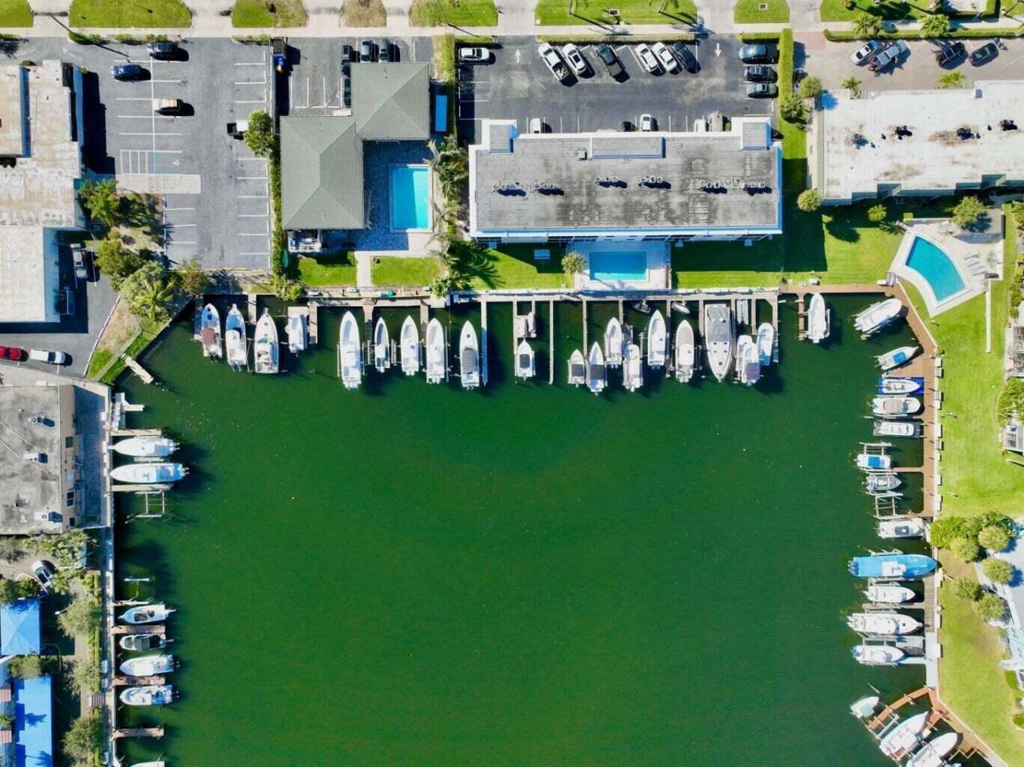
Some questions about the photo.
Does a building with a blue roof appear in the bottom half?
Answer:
Yes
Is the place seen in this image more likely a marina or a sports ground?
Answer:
marina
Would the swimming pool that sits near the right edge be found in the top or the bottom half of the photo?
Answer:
top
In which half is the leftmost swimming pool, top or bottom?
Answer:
top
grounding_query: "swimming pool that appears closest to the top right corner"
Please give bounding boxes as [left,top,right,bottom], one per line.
[891,209,1003,318]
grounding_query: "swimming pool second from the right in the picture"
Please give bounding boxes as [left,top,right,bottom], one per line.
[574,242,670,290]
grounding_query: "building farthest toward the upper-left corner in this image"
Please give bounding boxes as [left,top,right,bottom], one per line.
[0,60,91,231]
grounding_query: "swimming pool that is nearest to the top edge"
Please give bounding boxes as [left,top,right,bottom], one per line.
[389,165,433,232]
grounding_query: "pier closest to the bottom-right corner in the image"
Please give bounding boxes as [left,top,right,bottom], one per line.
[941,712,1007,767]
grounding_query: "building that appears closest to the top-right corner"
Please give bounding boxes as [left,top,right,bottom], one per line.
[809,79,1024,207]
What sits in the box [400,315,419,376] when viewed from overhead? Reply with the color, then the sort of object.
white boat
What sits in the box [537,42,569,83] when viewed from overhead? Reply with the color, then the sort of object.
white truck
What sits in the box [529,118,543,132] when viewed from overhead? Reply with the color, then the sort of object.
white car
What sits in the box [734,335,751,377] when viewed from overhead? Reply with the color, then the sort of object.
white boat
